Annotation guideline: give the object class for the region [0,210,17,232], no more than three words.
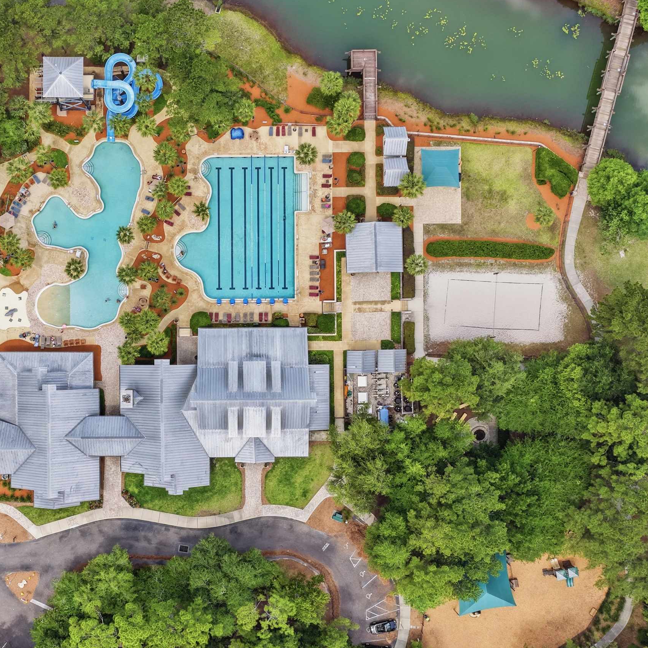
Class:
umbrella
